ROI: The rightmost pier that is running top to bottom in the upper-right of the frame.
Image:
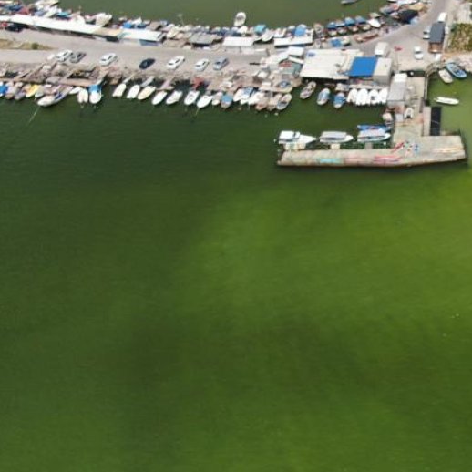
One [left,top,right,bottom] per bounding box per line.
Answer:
[429,103,442,139]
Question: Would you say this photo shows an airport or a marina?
marina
